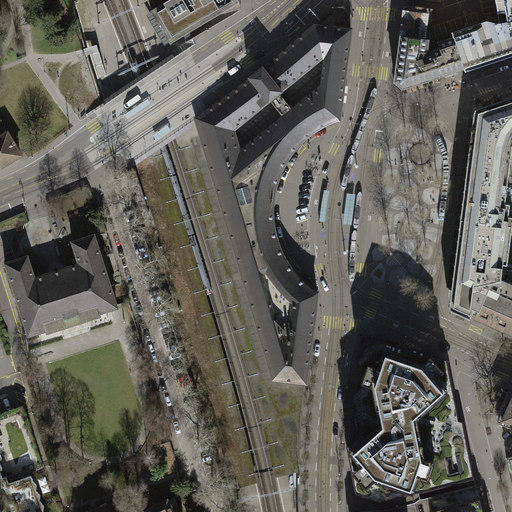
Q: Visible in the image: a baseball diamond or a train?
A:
train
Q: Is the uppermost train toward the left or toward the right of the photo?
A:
right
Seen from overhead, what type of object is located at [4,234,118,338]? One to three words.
building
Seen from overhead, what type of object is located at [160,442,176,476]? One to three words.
shed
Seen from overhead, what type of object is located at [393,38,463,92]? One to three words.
building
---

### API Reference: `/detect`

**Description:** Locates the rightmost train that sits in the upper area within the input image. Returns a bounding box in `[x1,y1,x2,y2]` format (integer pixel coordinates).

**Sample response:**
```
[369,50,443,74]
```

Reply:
[435,135,448,222]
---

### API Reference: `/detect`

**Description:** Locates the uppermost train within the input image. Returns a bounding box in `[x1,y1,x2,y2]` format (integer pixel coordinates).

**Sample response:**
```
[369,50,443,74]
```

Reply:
[351,88,376,154]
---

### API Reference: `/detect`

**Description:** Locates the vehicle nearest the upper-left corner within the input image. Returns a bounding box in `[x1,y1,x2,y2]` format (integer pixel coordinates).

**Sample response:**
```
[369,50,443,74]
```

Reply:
[123,95,140,108]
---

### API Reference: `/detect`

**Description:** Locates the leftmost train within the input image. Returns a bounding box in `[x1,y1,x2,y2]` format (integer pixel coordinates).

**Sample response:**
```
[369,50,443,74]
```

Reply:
[164,144,212,294]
